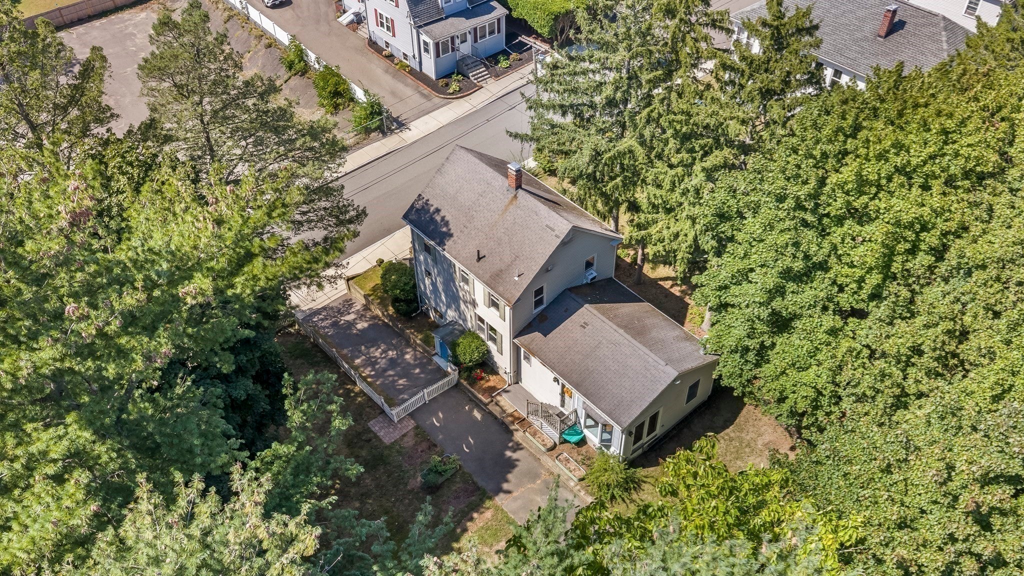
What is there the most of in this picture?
trees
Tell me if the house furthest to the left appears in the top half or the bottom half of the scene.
top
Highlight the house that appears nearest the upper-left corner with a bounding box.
[335,0,513,78]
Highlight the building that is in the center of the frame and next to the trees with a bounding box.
[401,146,717,466]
